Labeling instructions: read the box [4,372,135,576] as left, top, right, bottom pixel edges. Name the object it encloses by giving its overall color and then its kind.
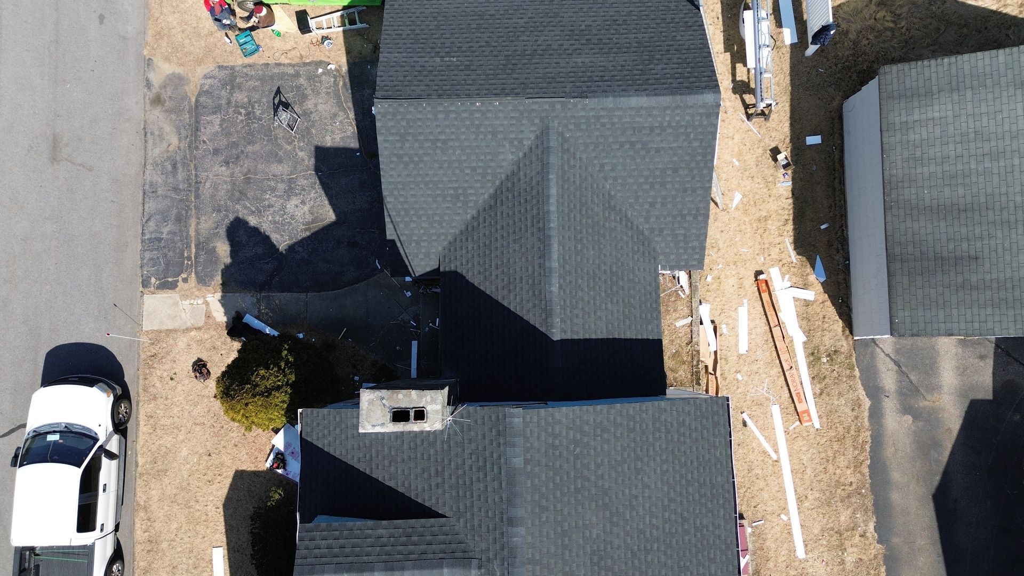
white truck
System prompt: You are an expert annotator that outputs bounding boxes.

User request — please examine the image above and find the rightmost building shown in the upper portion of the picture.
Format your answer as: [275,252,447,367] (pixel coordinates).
[841,39,1024,343]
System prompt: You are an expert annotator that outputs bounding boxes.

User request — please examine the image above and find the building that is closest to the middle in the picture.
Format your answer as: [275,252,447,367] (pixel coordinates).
[289,0,742,576]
